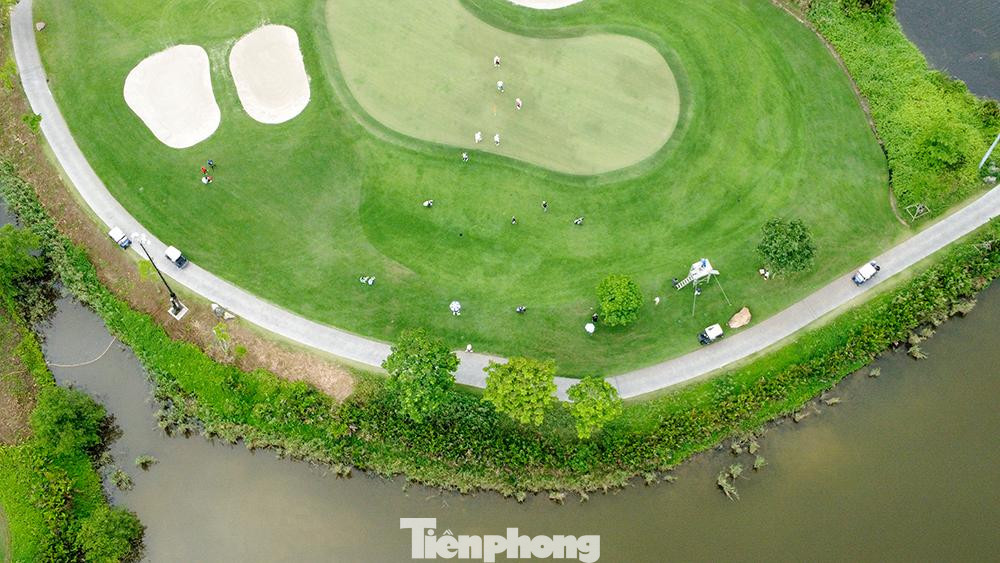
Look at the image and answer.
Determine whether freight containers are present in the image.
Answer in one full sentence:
No, there's no freight container here.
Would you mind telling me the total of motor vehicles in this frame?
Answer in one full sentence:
In total, 4 motor vehicles can be seen.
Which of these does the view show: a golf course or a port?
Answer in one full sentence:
This looks like a golf course.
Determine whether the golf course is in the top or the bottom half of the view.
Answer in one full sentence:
The golf course sits in the top half of the picture.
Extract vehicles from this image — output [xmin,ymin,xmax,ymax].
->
[108,228,135,257]
[694,322,724,350]
[166,247,192,276]
[852,261,881,288]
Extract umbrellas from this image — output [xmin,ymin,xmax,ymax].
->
[583,322,596,333]
[447,302,459,312]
